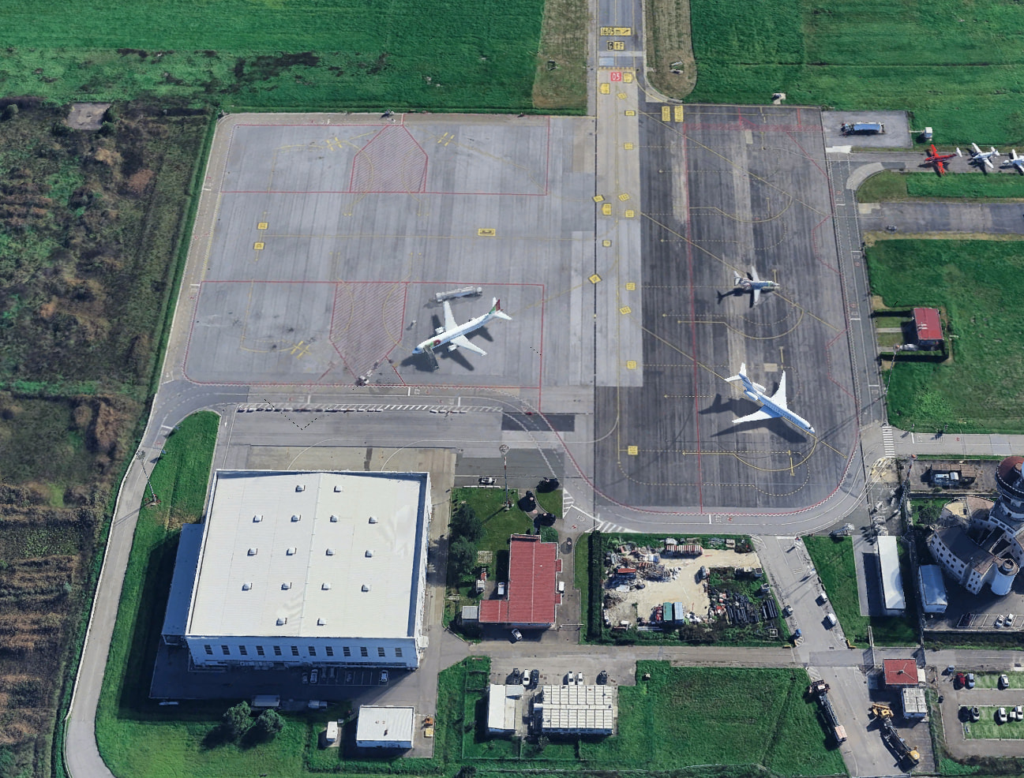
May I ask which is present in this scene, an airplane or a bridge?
airplane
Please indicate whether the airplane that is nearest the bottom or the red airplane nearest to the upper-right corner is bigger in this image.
the airplane that is nearest the bottom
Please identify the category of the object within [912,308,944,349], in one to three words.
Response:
house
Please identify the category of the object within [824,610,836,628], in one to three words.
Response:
vehicle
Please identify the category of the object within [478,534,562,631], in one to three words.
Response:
building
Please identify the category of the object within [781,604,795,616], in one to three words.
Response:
vehicle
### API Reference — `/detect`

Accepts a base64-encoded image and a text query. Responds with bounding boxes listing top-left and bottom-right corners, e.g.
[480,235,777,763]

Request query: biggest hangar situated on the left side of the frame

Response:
[186,471,432,669]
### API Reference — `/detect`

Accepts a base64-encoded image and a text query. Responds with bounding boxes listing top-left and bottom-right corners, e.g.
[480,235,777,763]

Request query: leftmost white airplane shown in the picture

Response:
[411,291,512,353]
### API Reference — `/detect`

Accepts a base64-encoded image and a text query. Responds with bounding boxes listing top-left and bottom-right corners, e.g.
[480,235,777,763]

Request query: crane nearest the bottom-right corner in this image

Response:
[870,704,920,763]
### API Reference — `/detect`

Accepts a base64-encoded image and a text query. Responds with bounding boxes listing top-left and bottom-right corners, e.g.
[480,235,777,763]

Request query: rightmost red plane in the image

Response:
[923,144,964,172]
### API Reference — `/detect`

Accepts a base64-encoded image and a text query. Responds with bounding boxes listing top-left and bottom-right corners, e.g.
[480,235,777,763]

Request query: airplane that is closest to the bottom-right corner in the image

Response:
[728,357,815,432]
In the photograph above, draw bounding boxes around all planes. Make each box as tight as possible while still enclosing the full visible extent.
[733,267,779,297]
[411,291,512,353]
[971,142,1004,169]
[1001,147,1024,173]
[923,144,964,172]
[728,357,815,432]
